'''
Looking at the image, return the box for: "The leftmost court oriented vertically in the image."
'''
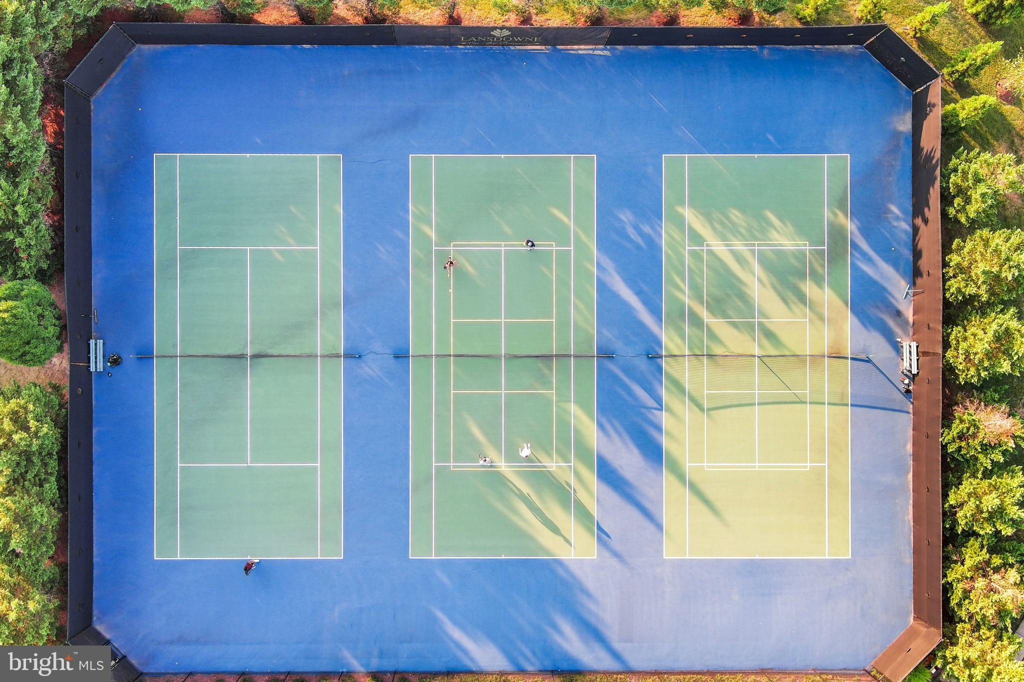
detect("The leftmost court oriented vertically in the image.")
[154,154,342,560]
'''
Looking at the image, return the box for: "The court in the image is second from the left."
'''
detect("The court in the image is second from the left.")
[409,154,597,559]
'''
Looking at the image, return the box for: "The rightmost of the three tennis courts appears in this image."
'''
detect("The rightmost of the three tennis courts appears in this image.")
[663,154,851,559]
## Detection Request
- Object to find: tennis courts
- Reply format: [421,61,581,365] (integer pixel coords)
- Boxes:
[663,154,851,559]
[409,154,597,559]
[154,154,342,560]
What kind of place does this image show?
sports ground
